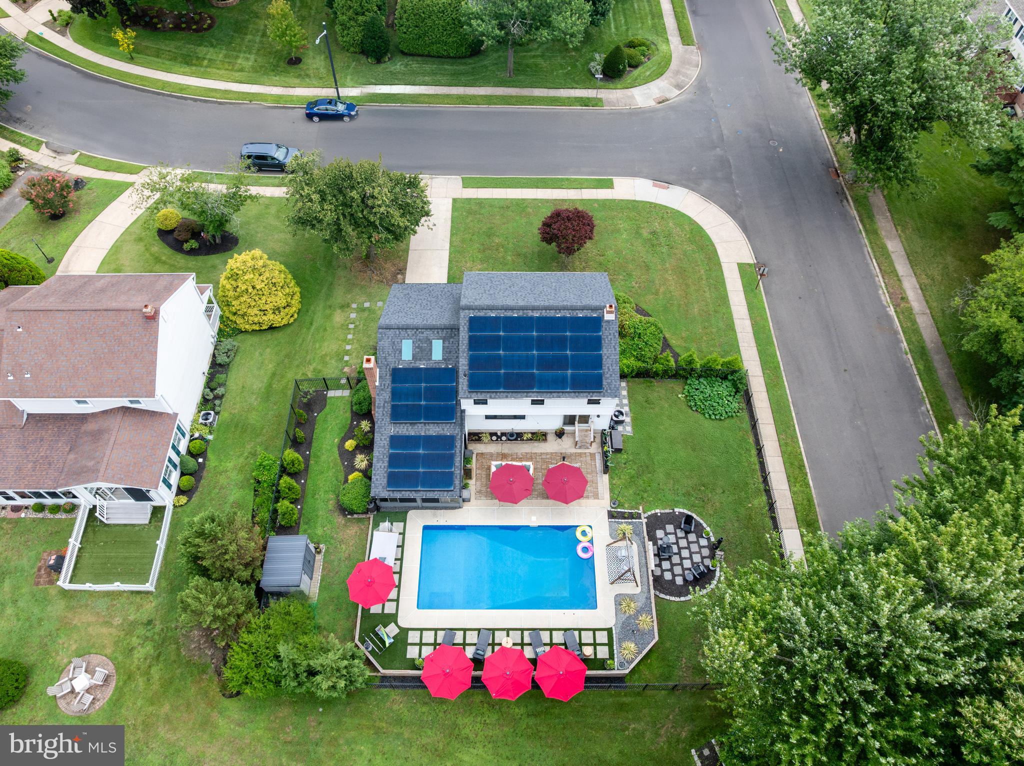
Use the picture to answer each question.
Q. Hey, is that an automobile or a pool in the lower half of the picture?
pool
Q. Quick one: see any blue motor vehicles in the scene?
Yes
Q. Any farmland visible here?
No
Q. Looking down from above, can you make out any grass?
Yes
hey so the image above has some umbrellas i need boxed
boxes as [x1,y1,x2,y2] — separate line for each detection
[344,561,397,611]
[541,465,588,507]
[420,646,476,704]
[488,465,534,507]
[480,648,536,706]
[533,648,587,705]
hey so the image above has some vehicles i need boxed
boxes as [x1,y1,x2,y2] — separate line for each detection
[304,96,359,120]
[238,140,302,172]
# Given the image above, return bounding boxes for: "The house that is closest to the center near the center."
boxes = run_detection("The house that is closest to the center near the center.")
[360,271,620,509]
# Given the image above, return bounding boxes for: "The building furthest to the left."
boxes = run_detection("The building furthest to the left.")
[0,273,218,505]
